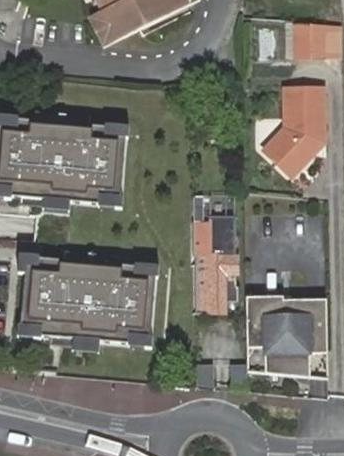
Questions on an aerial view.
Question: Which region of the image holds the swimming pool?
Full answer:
Look in the top right portion of the view to spot the swimming pool.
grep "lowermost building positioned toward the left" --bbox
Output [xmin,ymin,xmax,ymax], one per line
[18,251,161,352]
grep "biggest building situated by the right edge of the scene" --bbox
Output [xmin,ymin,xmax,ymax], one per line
[248,296,328,398]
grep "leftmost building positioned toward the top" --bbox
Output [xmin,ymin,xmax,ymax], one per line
[0,112,132,215]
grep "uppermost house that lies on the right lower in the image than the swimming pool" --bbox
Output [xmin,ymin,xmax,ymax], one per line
[262,83,326,180]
